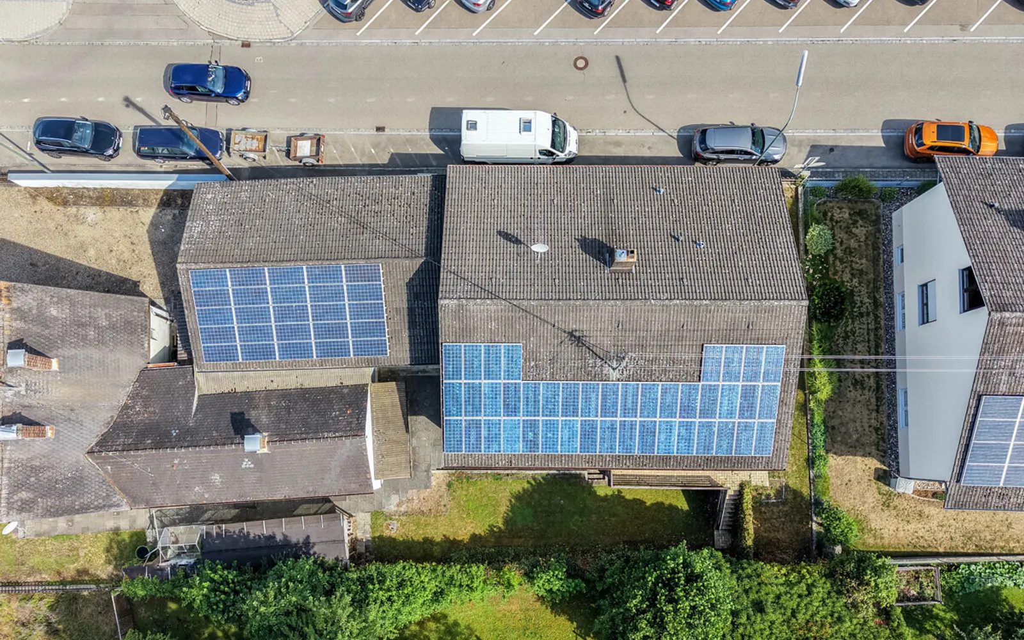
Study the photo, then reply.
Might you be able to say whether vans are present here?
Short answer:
Yes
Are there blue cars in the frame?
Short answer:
Yes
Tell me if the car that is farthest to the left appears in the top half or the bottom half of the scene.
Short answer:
top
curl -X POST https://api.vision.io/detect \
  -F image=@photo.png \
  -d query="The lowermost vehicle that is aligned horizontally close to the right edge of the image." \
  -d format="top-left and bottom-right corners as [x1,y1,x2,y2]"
[903,118,995,161]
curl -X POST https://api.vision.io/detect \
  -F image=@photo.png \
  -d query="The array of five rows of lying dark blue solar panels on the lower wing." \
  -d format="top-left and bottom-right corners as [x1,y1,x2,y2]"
[192,264,391,362]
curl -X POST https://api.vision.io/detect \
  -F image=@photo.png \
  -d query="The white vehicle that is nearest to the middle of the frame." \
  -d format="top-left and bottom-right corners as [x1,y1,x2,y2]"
[460,116,577,164]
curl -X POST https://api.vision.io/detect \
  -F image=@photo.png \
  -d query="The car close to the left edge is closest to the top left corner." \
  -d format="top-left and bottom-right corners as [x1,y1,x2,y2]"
[30,117,127,163]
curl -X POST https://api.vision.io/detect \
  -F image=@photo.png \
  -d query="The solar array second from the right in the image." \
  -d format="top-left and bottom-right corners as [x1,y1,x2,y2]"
[442,347,784,455]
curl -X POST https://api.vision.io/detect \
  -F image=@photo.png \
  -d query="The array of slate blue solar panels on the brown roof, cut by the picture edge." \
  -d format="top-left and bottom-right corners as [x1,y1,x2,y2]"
[961,392,1024,484]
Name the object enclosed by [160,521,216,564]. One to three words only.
greenhouse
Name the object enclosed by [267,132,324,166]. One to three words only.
trailer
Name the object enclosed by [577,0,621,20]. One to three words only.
car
